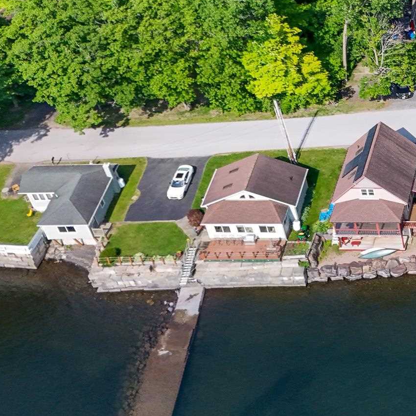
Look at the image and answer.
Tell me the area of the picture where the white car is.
center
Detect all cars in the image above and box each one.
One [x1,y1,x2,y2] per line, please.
[165,164,192,198]
[394,71,412,94]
